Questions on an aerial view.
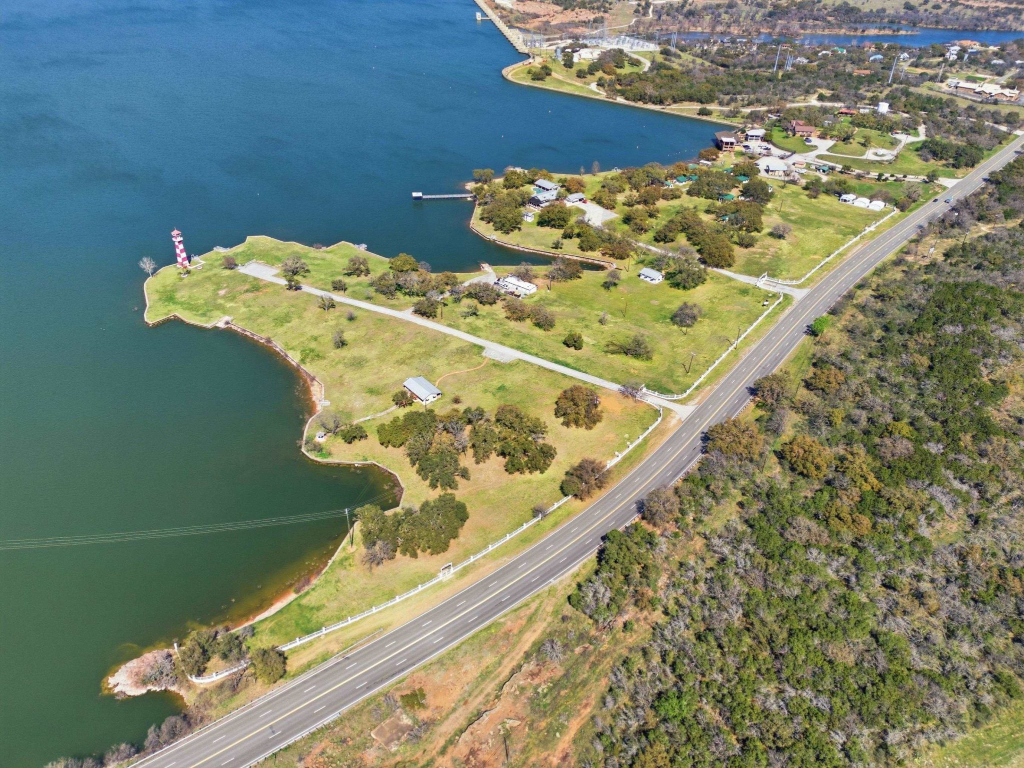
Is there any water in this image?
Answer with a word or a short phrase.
Yes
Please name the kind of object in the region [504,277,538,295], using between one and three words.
shed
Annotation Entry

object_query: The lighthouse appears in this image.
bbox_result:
[170,229,190,268]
